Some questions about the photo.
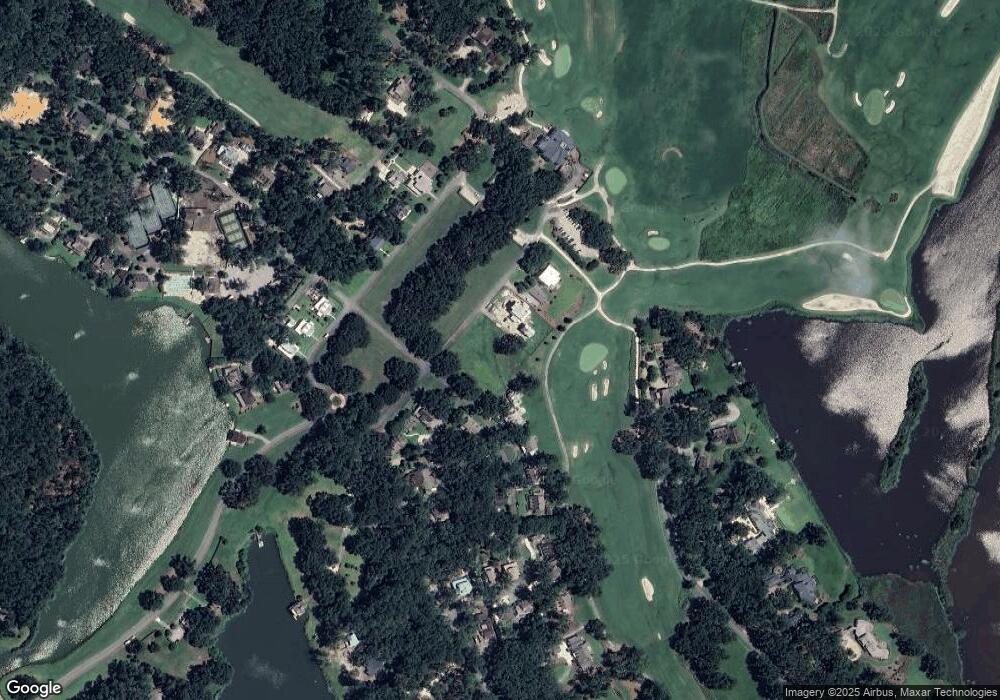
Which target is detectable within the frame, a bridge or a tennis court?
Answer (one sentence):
I can see a tennis court in this picture.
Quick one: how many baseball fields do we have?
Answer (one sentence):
Not a single baseball field can be seen.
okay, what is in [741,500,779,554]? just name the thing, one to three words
house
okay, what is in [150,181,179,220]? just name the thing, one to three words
tennis court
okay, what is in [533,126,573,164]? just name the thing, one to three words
building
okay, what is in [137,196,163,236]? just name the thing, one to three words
tennis court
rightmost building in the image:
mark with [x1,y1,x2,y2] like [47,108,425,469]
[853,618,893,662]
